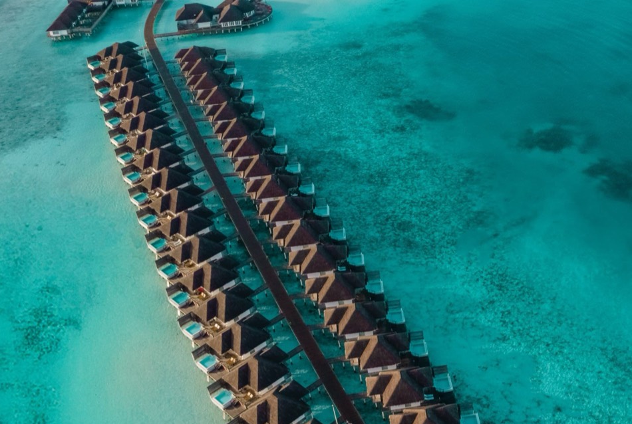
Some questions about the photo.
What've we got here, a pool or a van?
pool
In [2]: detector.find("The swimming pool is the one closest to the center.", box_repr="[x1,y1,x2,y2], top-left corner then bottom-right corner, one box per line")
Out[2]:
[311,206,327,218]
